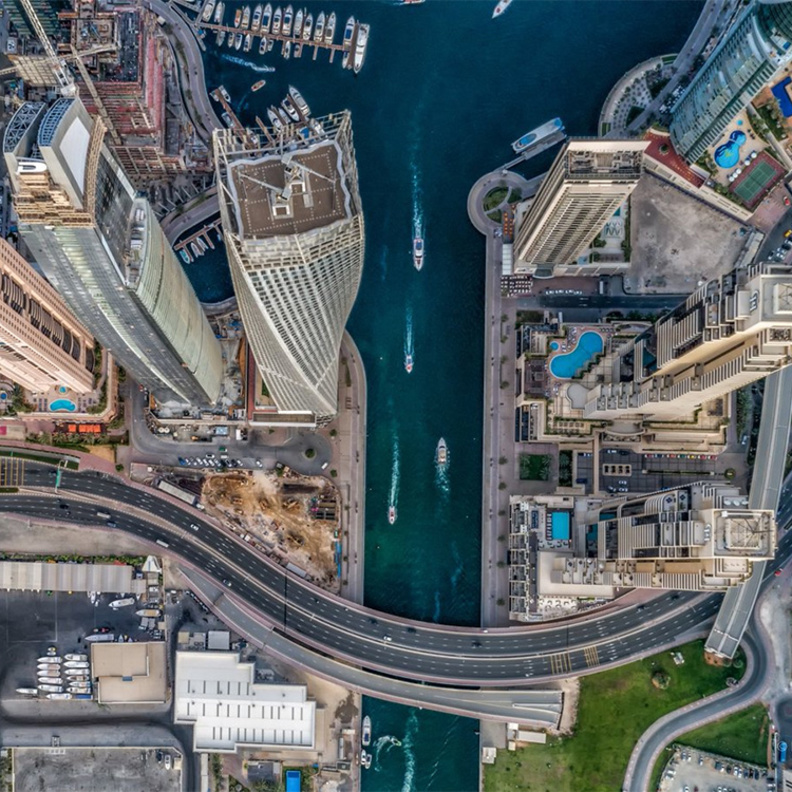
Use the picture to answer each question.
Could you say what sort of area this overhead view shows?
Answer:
port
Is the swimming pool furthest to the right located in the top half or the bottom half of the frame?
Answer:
top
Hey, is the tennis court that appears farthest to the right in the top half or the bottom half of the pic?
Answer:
top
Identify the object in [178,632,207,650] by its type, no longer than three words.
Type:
building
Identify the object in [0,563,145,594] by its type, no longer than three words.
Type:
shed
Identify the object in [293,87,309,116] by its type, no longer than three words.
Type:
boat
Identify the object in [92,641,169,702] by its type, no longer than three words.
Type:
building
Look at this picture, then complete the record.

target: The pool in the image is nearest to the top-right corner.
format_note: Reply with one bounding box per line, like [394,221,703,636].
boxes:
[770,73,792,118]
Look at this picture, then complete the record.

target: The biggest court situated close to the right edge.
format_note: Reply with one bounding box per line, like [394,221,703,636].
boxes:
[729,150,787,212]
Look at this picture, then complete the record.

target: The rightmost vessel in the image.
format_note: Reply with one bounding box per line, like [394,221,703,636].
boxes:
[507,118,565,151]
